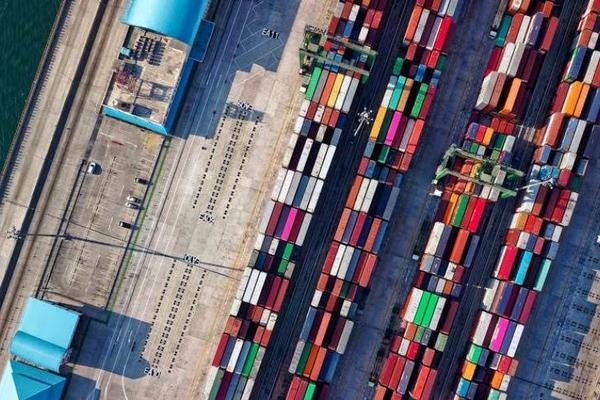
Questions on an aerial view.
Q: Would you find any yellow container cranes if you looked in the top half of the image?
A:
No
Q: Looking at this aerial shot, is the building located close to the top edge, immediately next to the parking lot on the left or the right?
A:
left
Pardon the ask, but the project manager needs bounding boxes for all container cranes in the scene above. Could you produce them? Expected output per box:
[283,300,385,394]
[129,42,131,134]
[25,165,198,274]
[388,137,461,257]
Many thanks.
[297,19,380,88]
[434,147,527,201]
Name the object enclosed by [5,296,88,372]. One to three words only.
shed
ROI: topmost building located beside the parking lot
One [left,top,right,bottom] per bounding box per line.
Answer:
[103,0,219,137]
